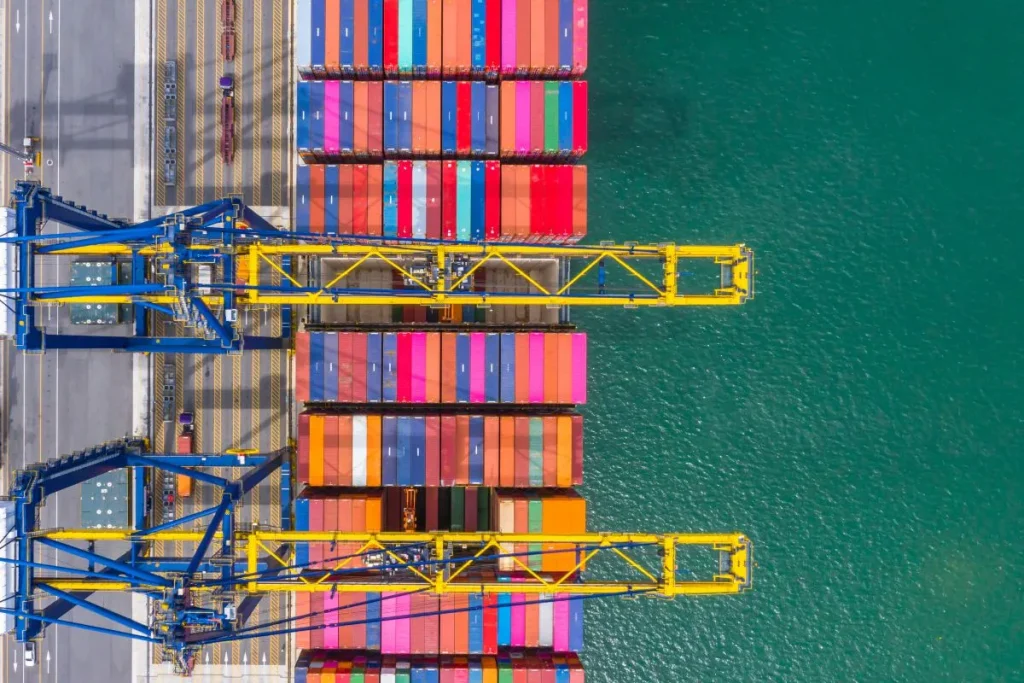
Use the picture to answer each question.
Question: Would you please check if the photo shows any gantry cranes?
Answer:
Yes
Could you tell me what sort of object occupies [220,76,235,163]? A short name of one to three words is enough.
vehicle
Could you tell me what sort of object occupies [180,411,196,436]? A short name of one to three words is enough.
vehicle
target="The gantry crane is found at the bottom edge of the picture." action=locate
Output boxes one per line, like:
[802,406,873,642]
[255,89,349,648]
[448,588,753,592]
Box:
[0,427,758,682]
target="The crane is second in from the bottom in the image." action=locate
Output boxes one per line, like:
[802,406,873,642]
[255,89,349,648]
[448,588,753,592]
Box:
[0,180,759,369]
